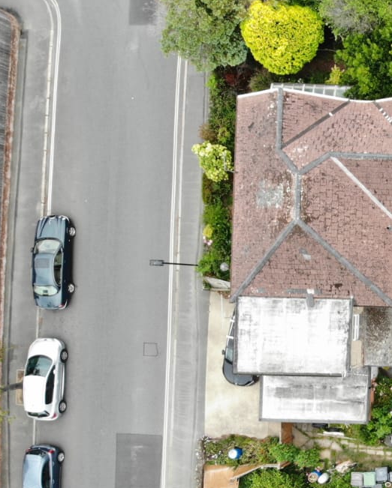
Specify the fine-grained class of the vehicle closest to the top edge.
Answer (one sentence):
It looks like the vehicle closest to the top edge is an automobile.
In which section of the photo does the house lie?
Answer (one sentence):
The house sits in the right section of the image.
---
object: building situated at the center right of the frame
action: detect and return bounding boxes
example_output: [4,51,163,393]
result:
[230,81,392,423]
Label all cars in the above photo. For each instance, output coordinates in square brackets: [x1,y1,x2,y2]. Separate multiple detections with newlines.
[21,336,72,421]
[28,215,80,311]
[23,442,69,488]
[219,304,264,388]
